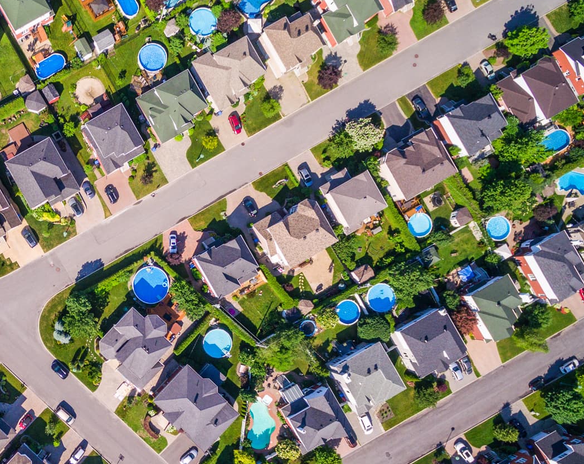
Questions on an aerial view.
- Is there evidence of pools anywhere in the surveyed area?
Yes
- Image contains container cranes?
No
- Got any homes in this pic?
Yes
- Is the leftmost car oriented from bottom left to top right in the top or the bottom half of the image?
bottom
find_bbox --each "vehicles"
[555,355,580,376]
[52,356,71,379]
[440,0,458,16]
[60,405,84,426]
[450,439,475,464]
[575,287,584,305]
[296,165,314,188]
[67,195,85,219]
[21,225,38,250]
[241,195,260,219]
[226,112,242,138]
[356,413,374,437]
[411,95,430,120]
[455,353,475,378]
[445,359,465,384]
[70,442,91,462]
[167,230,180,254]
[16,411,38,434]
[506,416,530,440]
[80,178,96,203]
[103,183,119,206]
[179,444,197,464]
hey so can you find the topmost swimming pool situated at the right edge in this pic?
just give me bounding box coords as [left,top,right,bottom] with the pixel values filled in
[541,126,571,155]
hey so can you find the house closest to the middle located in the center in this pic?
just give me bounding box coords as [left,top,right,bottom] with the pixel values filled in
[250,199,337,266]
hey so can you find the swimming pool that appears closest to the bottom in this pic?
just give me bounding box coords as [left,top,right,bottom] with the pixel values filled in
[246,399,277,451]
